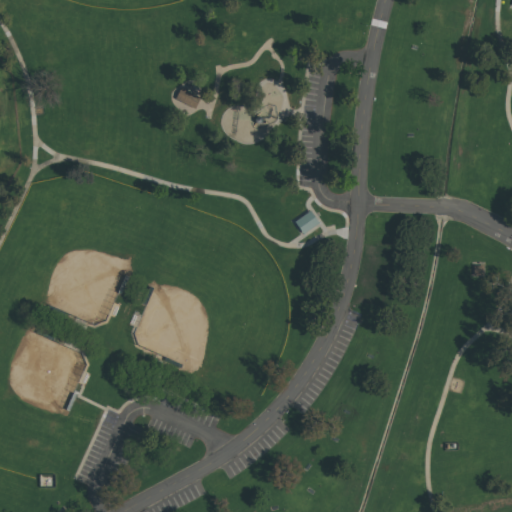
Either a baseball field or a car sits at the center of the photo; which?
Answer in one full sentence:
There is a baseball field at the center of the photo.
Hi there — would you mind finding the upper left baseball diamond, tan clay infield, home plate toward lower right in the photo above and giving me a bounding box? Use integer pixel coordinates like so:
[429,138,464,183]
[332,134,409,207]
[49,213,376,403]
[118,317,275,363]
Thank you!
[0,174,150,324]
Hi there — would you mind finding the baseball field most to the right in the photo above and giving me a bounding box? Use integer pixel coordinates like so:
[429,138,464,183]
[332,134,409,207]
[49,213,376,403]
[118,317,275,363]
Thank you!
[134,206,289,392]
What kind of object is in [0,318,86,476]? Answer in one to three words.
baseball field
